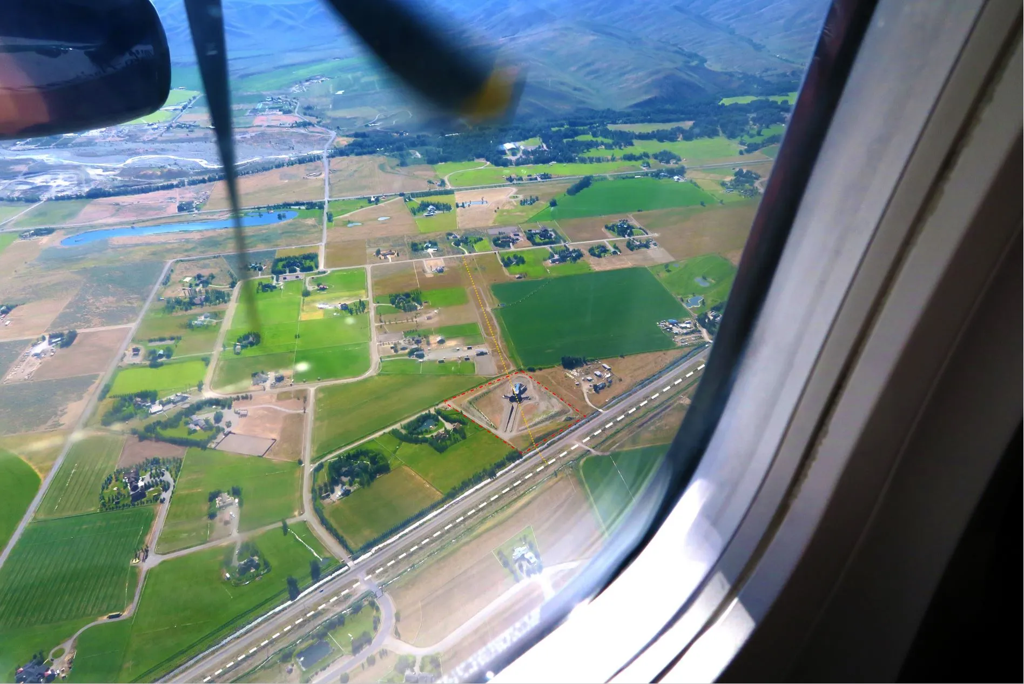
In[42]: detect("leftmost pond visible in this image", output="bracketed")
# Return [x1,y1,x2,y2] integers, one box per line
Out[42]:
[61,210,298,246]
